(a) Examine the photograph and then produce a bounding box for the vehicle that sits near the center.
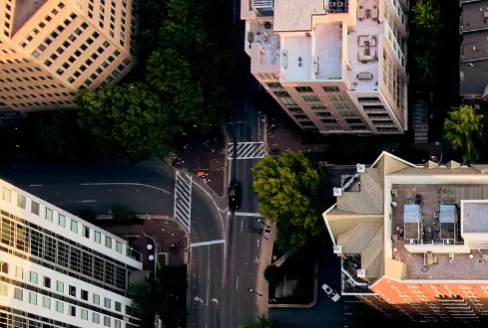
[228,182,240,208]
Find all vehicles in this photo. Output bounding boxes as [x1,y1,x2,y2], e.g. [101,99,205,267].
[228,182,240,208]
[321,284,342,303]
